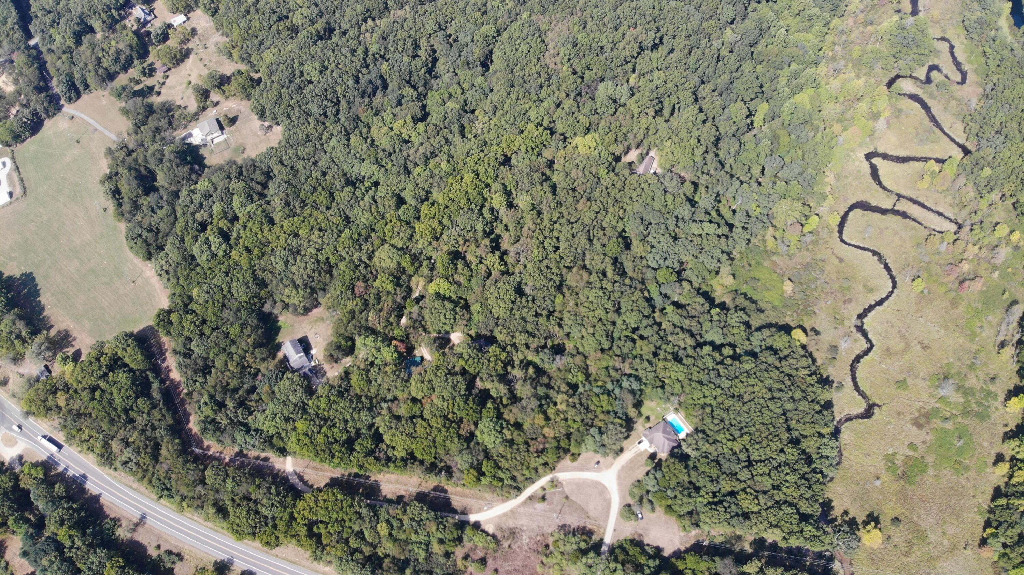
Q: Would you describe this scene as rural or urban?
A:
rural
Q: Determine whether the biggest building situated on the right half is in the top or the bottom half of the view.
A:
bottom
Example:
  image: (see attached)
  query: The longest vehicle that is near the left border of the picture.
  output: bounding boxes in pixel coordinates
[38,436,62,453]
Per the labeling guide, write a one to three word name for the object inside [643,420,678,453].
building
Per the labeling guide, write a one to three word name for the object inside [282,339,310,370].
house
